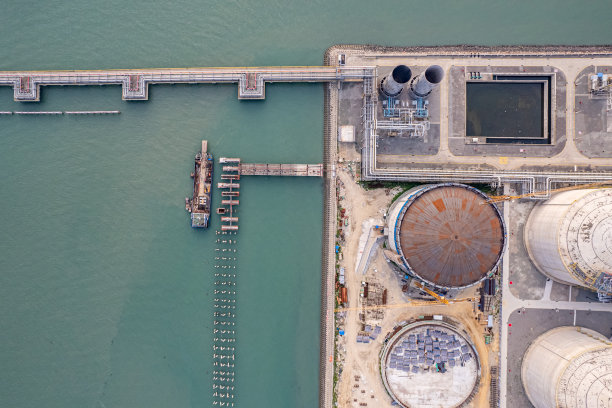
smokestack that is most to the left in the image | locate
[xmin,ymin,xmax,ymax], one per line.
[380,65,412,100]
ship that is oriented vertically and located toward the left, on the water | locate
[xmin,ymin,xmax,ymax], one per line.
[188,140,219,228]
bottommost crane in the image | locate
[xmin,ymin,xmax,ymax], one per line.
[333,279,484,314]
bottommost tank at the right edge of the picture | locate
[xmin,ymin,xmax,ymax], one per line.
[524,325,612,408]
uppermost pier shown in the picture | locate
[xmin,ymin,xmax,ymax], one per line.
[0,66,338,102]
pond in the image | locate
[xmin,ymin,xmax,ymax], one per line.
[464,73,557,146]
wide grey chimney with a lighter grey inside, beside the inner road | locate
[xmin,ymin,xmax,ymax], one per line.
[409,65,444,100]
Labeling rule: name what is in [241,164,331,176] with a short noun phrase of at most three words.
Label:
pier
